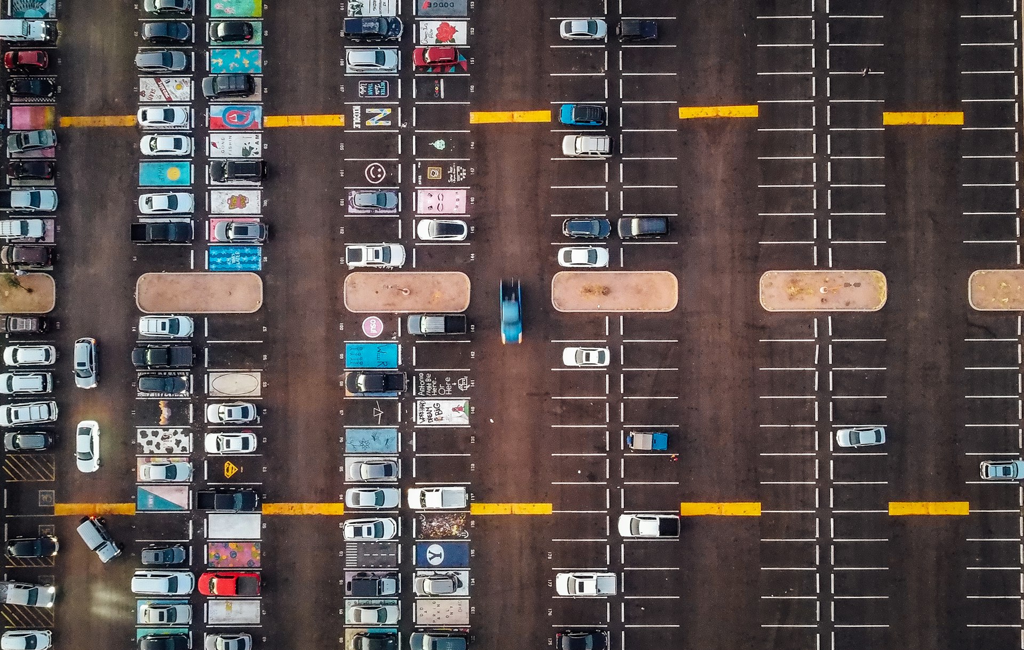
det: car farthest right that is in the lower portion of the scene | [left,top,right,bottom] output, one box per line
[977,460,1024,483]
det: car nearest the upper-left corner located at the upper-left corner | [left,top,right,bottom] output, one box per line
[0,16,50,42]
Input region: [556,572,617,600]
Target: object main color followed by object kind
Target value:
white truck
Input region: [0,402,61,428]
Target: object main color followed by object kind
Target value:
white car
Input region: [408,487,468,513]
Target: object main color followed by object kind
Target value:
white truck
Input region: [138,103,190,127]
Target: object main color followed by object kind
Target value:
white car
